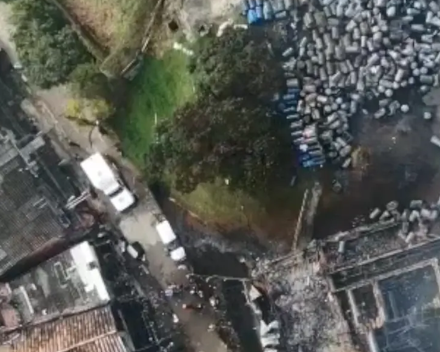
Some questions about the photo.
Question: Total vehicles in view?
2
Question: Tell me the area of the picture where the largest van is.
left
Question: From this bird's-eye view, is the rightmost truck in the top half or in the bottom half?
bottom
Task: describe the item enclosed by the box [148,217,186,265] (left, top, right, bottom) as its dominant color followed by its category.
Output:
white truck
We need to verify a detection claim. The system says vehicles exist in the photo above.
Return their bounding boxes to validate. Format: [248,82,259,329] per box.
[148,217,186,265]
[70,151,133,213]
